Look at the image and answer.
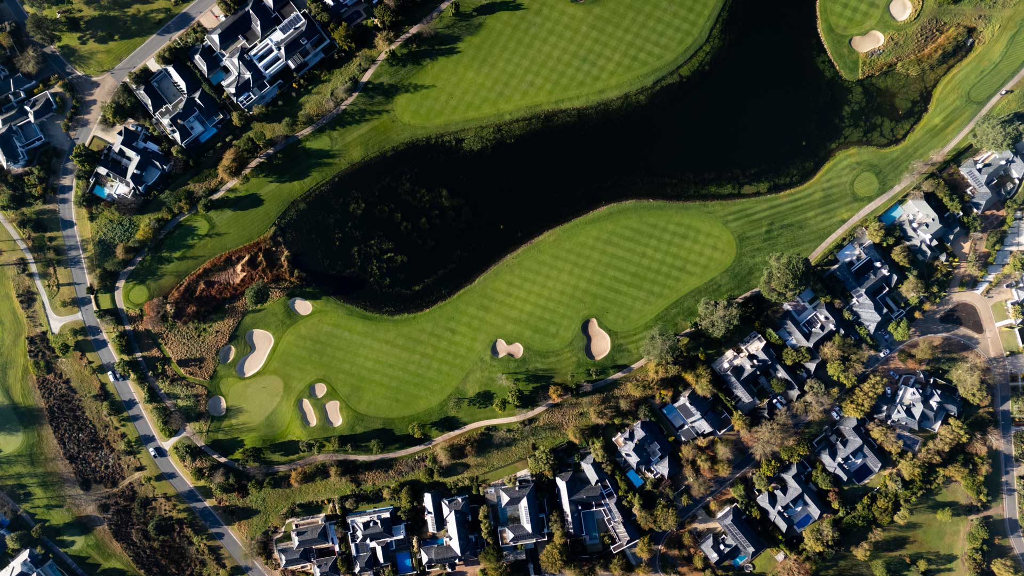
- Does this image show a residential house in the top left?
Yes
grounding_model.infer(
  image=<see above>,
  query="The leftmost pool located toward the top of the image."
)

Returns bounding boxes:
[91,184,109,200]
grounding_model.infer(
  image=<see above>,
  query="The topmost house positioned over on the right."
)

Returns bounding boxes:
[948,146,1024,218]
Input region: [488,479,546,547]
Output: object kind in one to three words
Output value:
house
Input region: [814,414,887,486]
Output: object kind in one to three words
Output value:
house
